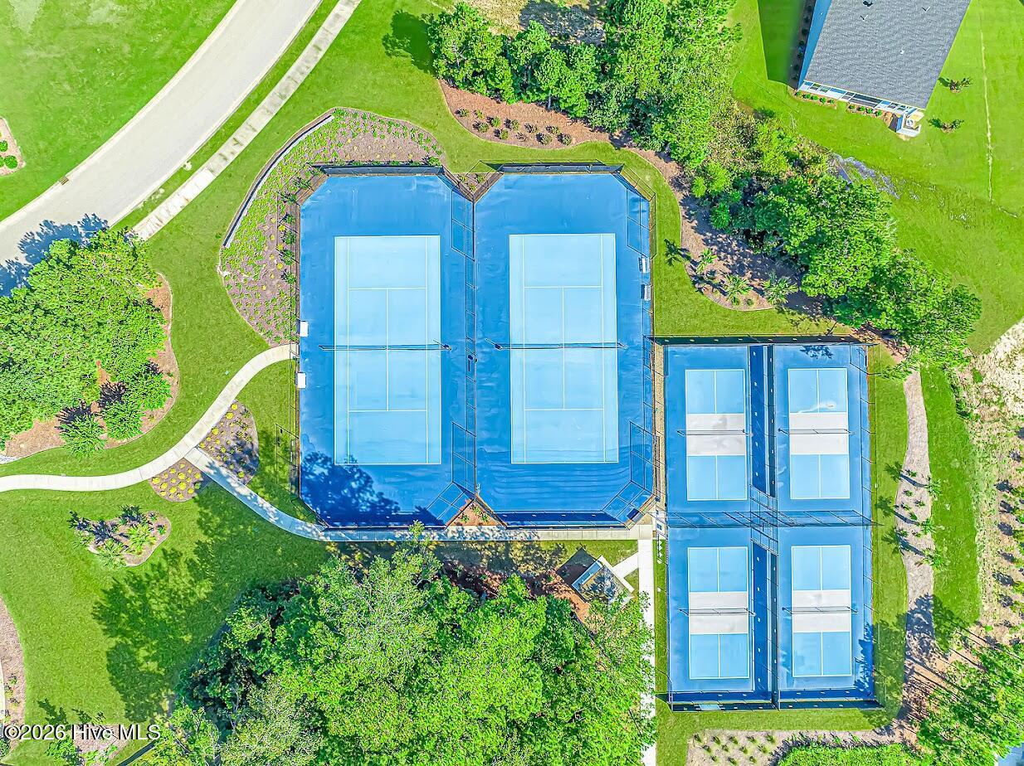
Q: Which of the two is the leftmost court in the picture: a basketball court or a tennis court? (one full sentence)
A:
Looking closely, the leftmost court is a tennis court.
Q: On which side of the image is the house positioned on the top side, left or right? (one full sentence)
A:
The house positioned on the top side appears in the right half of the scene.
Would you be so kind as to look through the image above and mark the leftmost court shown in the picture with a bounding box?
[300,175,475,527]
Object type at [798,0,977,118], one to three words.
house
